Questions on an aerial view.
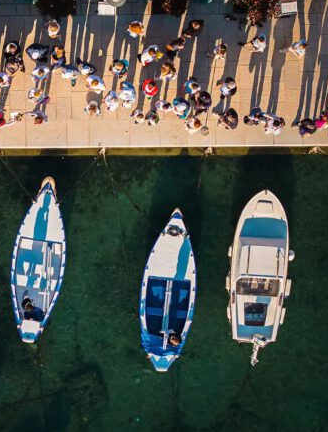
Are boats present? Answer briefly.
Yes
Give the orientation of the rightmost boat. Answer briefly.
from top to bottom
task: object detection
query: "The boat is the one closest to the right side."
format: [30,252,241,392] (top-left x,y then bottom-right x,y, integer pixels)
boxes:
[229,189,290,367]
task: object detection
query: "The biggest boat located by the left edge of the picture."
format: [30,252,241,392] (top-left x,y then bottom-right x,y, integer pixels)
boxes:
[9,176,66,343]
